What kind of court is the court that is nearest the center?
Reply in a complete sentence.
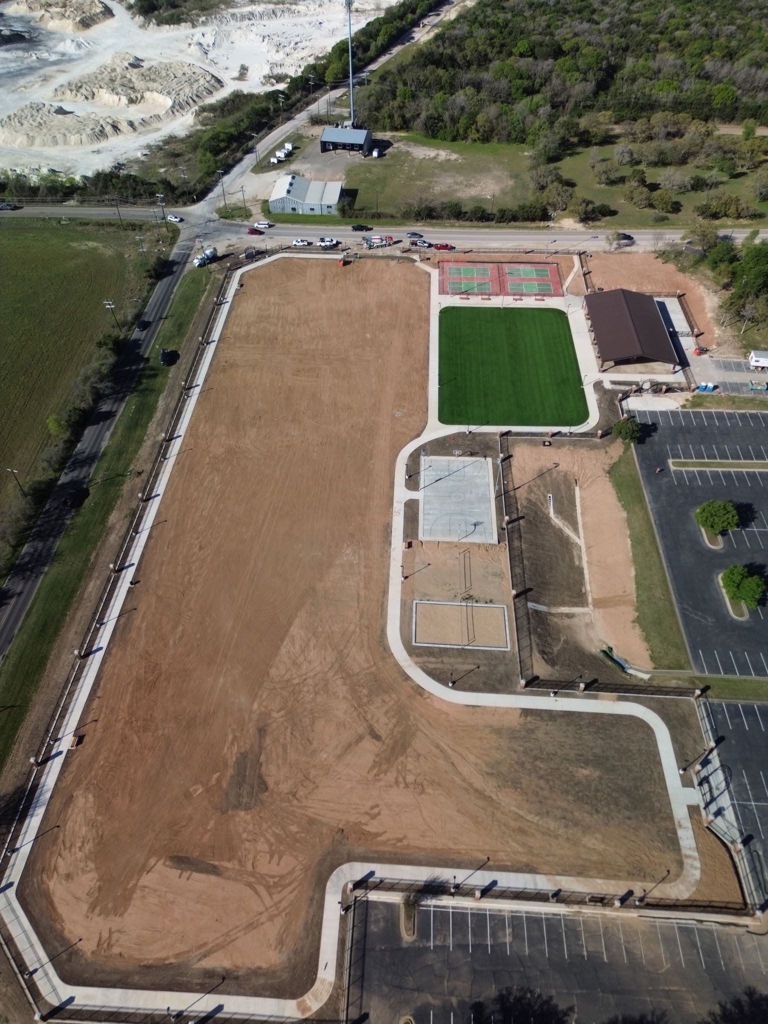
I'd identify the court that is nearest the center as a basketball court.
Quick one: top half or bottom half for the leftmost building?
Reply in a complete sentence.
It is in the top half that the leftmost building appears.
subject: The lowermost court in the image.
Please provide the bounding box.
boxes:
[412,601,510,651]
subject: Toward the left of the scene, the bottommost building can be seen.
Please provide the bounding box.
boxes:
[268,175,344,215]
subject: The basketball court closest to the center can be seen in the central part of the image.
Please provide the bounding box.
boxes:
[419,456,498,544]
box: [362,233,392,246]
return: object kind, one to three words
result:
vehicle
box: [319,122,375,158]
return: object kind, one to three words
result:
shed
